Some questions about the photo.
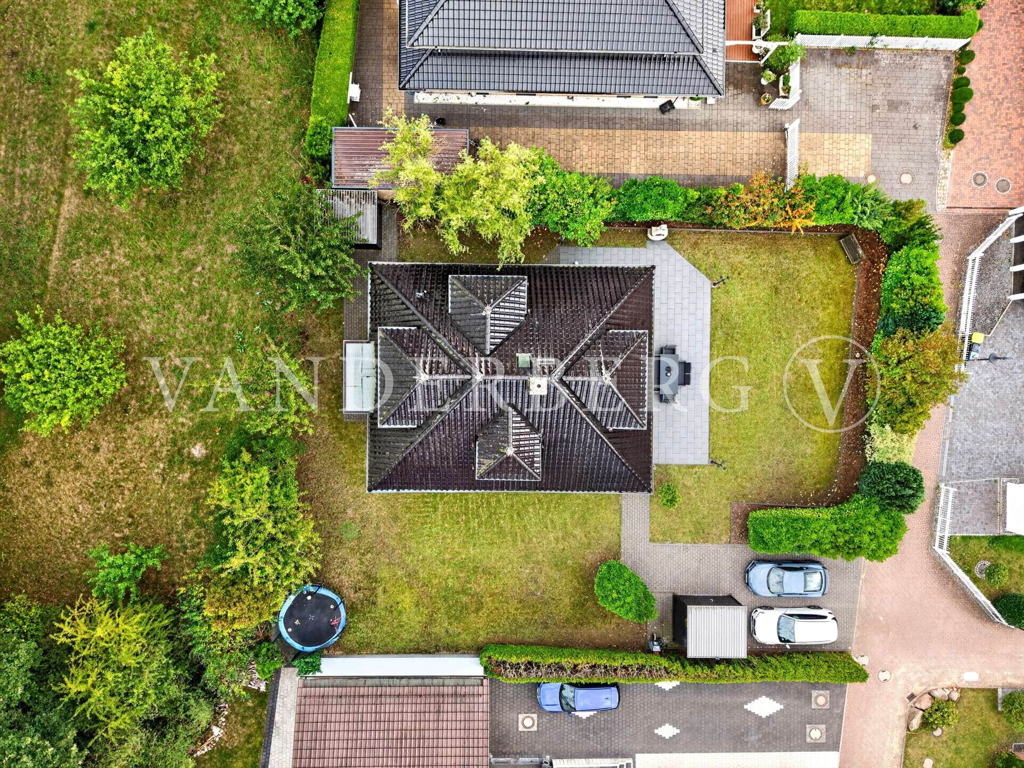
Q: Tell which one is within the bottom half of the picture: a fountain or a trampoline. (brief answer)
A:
trampoline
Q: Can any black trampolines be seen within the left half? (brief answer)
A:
Yes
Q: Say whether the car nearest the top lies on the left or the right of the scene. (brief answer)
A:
right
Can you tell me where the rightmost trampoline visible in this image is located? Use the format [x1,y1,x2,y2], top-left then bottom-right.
[272,580,348,660]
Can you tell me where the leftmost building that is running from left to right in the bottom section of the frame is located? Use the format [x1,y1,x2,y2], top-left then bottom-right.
[291,669,490,768]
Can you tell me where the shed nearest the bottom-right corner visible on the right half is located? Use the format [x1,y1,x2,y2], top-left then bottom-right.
[673,595,747,661]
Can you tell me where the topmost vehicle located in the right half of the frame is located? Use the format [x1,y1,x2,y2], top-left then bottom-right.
[745,561,831,602]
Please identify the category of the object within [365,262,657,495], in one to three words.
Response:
house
